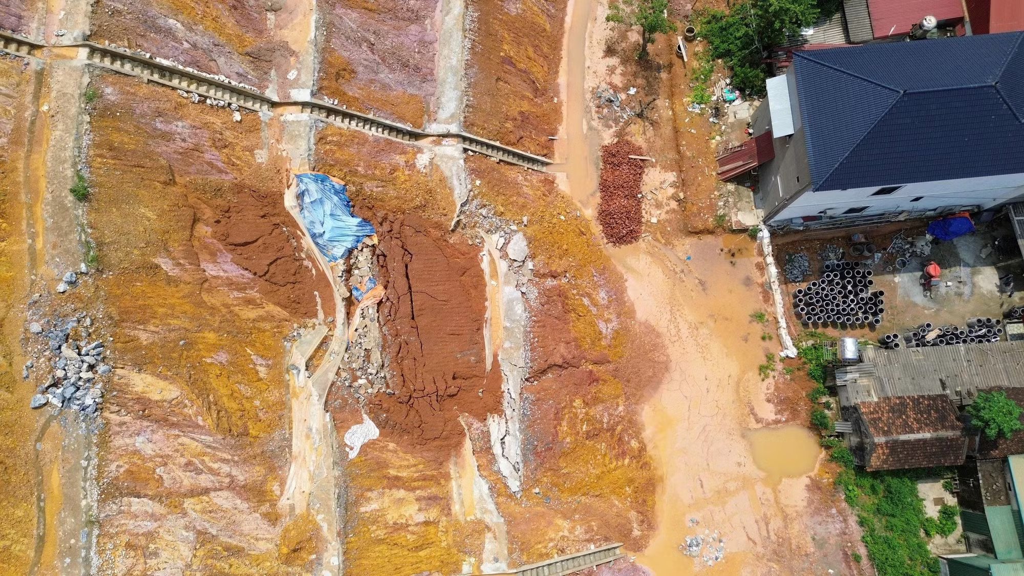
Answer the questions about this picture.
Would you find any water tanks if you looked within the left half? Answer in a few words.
No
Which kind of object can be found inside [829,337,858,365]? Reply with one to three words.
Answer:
water tank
